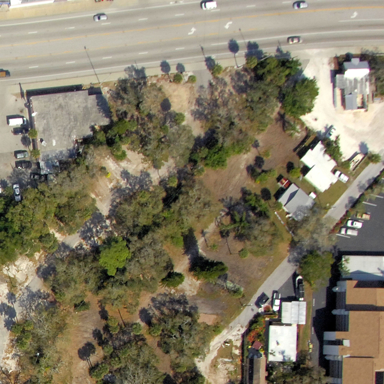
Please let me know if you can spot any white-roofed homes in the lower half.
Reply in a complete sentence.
Yes, looking in the lower half, one can make out a white-roofed home.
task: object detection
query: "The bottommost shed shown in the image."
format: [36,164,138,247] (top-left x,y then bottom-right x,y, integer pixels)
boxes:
[245,357,265,384]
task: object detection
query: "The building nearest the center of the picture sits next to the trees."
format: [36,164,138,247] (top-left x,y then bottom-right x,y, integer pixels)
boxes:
[278,183,315,217]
